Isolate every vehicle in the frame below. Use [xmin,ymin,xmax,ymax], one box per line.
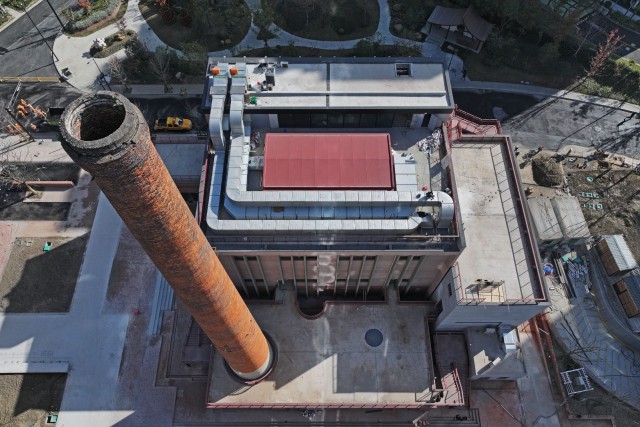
[152,116,192,133]
[44,109,65,128]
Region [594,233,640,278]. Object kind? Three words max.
building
